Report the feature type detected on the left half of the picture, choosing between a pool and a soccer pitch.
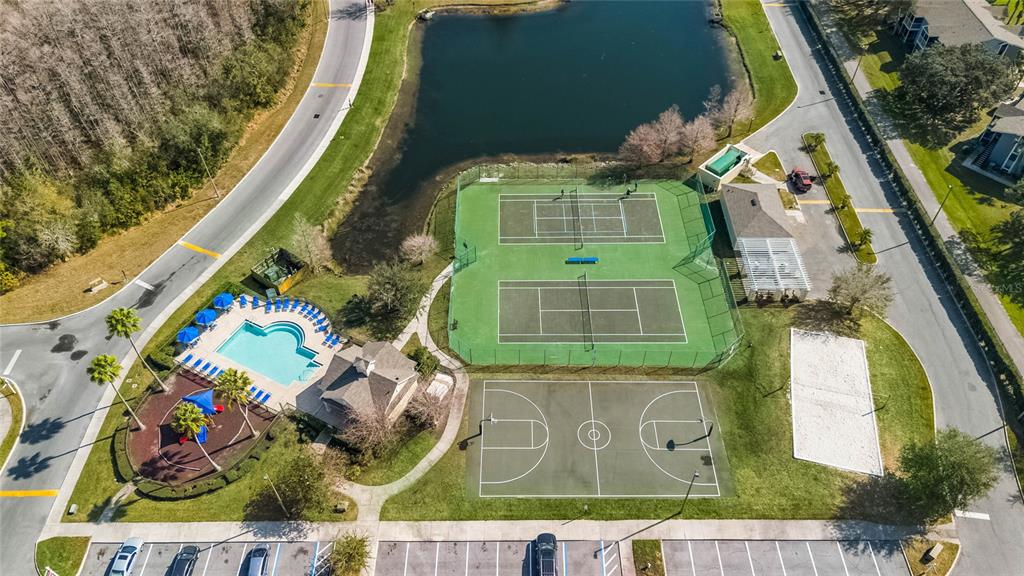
pool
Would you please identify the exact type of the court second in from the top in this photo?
tennis court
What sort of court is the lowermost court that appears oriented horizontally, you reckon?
basketball court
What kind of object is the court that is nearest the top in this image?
tennis court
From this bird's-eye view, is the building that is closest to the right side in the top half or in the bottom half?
top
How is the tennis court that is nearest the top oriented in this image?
from side to side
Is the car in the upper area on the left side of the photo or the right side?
right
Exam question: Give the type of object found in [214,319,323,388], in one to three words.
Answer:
swimming pool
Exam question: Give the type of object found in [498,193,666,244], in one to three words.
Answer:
tennis court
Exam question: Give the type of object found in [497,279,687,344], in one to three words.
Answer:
tennis court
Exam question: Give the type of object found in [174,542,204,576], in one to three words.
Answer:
car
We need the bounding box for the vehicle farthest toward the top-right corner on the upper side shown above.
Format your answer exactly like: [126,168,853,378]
[788,169,815,191]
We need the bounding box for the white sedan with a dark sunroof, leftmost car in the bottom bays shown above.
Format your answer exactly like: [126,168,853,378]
[111,534,144,576]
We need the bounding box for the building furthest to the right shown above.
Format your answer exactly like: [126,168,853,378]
[969,93,1024,173]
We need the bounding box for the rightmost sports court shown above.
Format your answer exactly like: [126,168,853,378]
[791,327,885,477]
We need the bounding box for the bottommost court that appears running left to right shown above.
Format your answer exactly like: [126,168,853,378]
[466,377,736,504]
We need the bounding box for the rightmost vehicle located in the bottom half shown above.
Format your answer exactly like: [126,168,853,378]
[534,533,557,576]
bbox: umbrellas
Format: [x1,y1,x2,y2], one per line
[197,312,218,331]
[178,329,201,348]
[215,296,236,315]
